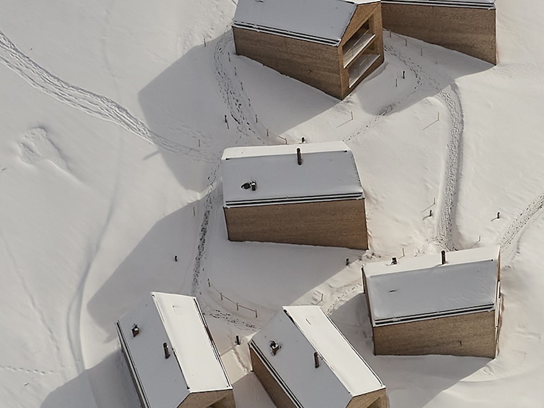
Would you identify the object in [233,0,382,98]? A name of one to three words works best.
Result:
house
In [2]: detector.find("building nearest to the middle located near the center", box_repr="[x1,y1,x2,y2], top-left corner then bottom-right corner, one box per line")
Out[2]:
[221,140,368,248]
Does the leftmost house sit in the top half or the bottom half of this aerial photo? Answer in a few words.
bottom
